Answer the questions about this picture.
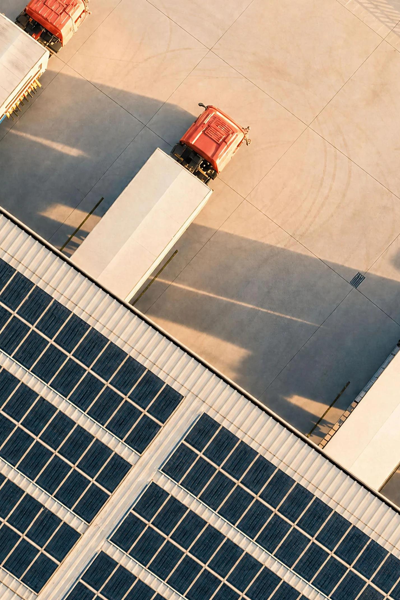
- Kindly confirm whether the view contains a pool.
No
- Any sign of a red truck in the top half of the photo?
Yes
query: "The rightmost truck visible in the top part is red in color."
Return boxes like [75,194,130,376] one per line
[167,99,256,194]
